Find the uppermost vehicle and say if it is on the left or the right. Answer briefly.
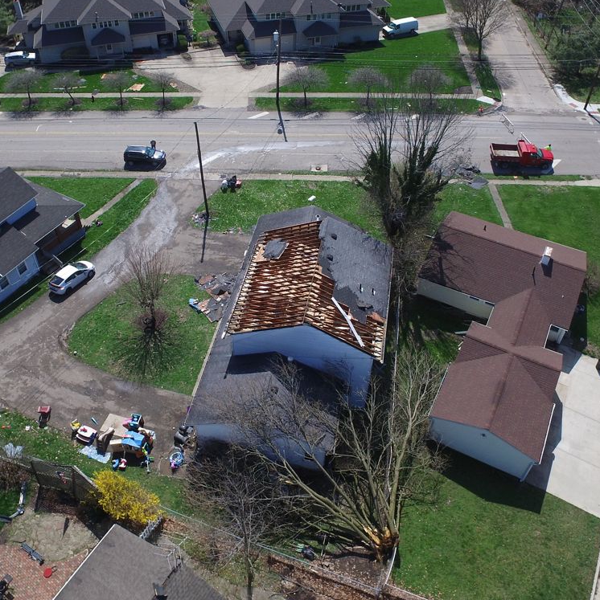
right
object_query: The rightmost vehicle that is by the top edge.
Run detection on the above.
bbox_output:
[381,15,421,36]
